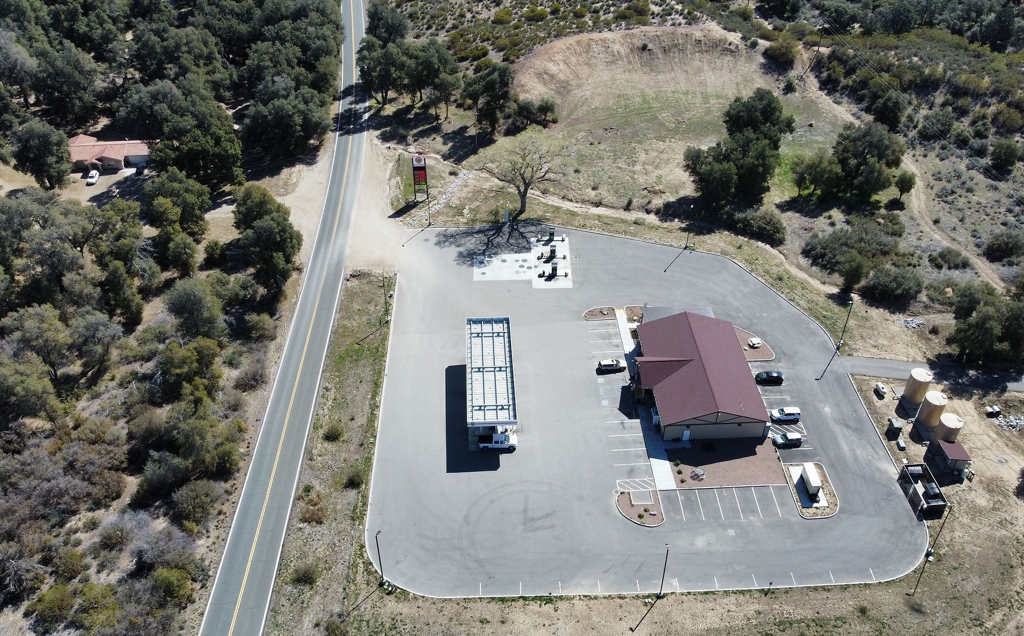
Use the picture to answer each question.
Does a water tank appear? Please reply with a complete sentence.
Yes, the photo shows a water tank.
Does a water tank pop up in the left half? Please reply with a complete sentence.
No, there's no water tank to be seen in the left half.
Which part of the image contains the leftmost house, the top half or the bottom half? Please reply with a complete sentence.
The top half of the photo is where the leftmost house is.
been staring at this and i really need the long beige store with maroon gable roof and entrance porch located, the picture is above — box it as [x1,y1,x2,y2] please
[632,307,770,441]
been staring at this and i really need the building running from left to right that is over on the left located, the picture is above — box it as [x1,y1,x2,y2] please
[61,127,171,180]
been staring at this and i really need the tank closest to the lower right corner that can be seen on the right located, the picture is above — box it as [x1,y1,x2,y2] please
[925,417,960,455]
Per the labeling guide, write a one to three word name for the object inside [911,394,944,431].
water tank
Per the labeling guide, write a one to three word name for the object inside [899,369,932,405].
water tank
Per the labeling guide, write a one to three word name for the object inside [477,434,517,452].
vehicle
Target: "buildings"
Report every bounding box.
[632,307,770,441]
[61,127,171,180]
[937,444,970,473]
